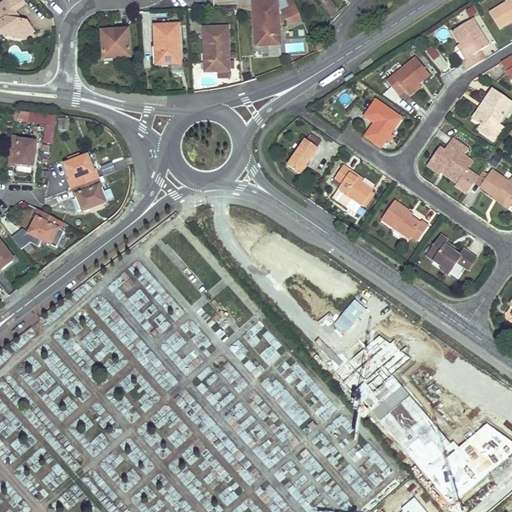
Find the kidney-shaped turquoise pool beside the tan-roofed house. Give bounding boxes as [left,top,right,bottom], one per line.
[8,44,32,64]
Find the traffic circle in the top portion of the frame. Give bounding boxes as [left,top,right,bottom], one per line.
[118,96,278,204]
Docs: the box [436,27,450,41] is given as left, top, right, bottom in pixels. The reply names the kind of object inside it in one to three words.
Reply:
swimming pool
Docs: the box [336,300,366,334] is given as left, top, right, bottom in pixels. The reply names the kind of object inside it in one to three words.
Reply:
building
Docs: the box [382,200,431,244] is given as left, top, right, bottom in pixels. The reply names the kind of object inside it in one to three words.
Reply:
house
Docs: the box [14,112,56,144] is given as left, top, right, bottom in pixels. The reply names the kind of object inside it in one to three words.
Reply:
shed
